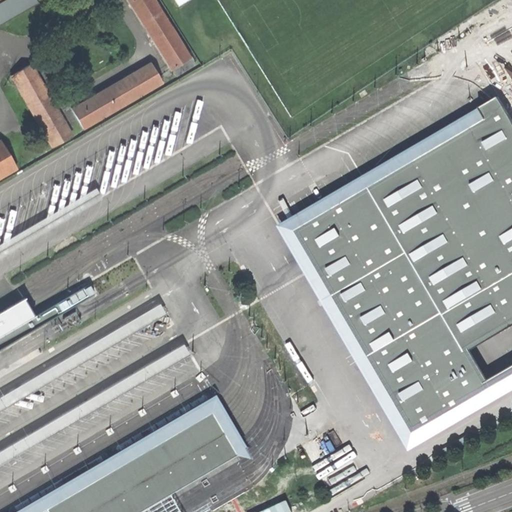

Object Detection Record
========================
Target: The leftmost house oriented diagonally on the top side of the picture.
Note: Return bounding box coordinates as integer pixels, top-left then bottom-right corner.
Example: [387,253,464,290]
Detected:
[11,66,74,148]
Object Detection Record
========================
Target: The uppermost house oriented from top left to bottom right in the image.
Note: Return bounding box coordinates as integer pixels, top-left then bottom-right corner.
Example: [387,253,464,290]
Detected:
[128,0,194,74]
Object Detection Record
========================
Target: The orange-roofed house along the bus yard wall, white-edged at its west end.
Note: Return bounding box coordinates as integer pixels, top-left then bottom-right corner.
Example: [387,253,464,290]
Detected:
[73,62,164,130]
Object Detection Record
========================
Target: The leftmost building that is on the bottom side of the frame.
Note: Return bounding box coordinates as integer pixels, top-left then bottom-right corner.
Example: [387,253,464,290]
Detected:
[0,298,38,344]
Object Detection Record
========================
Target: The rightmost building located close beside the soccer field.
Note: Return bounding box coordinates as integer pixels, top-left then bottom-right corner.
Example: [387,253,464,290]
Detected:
[279,97,512,451]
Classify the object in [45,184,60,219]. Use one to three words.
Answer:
vehicle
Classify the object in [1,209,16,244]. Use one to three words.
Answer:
vehicle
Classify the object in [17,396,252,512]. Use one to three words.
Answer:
building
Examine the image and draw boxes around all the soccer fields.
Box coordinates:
[158,0,500,137]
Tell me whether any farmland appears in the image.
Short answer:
No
